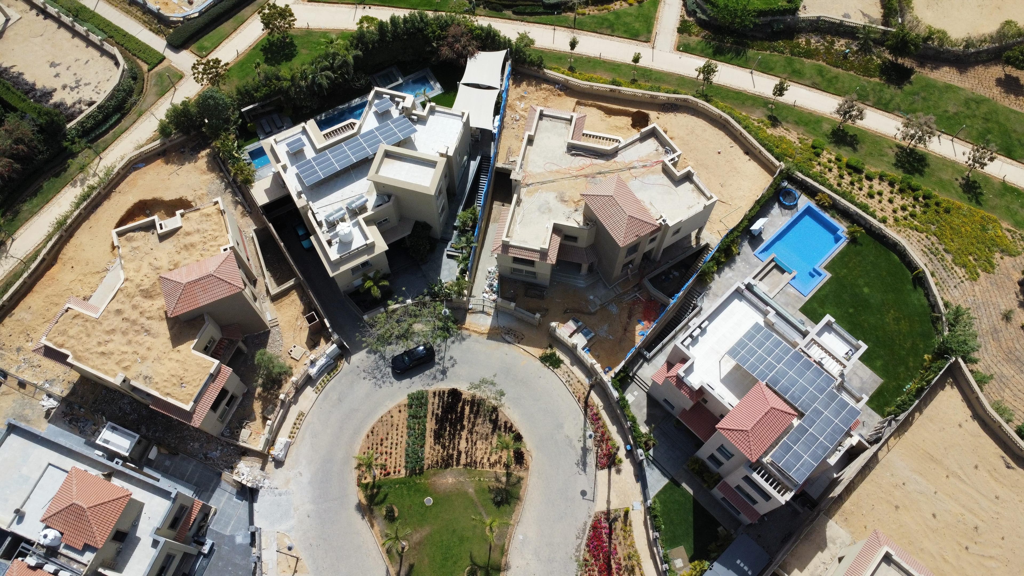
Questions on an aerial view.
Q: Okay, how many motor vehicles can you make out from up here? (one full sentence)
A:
My tally gives 2 motor vehicles in this view.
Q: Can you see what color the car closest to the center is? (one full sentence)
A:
In this view, the car closest to the center is black.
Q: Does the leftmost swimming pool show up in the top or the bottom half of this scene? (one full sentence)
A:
The leftmost swimming pool sits in the top half of the picture.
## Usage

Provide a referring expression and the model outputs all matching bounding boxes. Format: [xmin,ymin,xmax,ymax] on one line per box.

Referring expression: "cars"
[290,219,317,256]
[389,341,439,377]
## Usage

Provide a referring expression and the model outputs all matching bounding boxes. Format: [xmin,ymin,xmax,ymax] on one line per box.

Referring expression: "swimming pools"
[315,95,372,135]
[757,203,847,296]
[382,71,441,99]
[243,143,276,174]
[370,69,404,88]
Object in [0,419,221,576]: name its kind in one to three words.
house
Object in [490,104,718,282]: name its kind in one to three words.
house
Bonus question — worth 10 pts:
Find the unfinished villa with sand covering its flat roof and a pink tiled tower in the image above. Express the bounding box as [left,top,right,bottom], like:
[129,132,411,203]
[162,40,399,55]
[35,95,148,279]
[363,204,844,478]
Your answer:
[27,197,265,434]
